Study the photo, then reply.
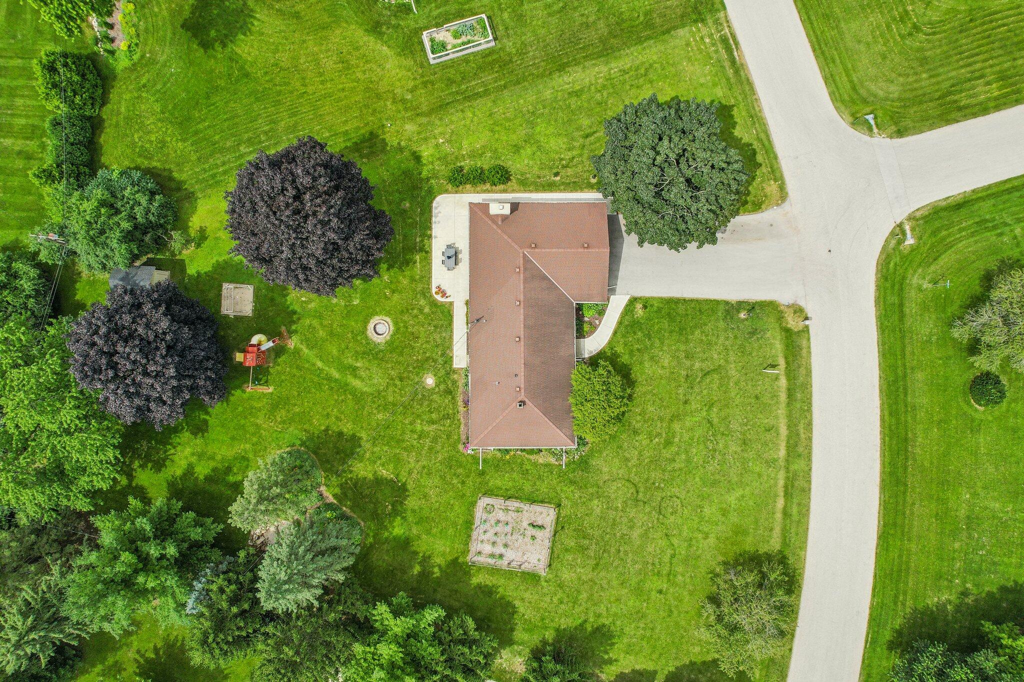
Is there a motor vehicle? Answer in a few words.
No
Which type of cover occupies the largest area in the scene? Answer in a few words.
grass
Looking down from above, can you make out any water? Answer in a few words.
No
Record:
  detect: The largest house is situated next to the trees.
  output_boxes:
[467,201,618,468]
